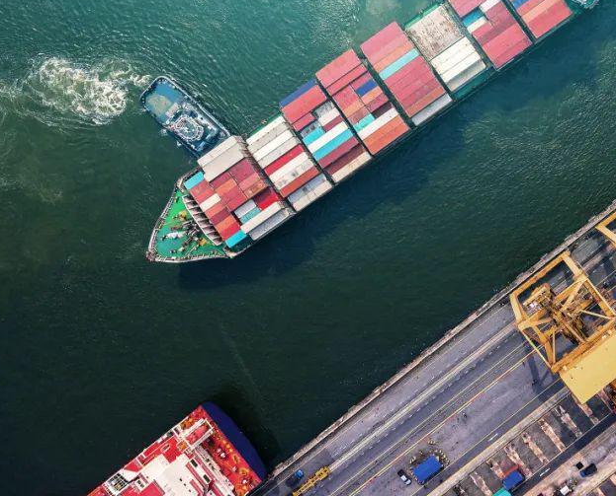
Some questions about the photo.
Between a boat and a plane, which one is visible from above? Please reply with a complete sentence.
This aerial view contains a boat.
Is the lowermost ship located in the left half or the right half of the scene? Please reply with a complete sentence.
It is on the left.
